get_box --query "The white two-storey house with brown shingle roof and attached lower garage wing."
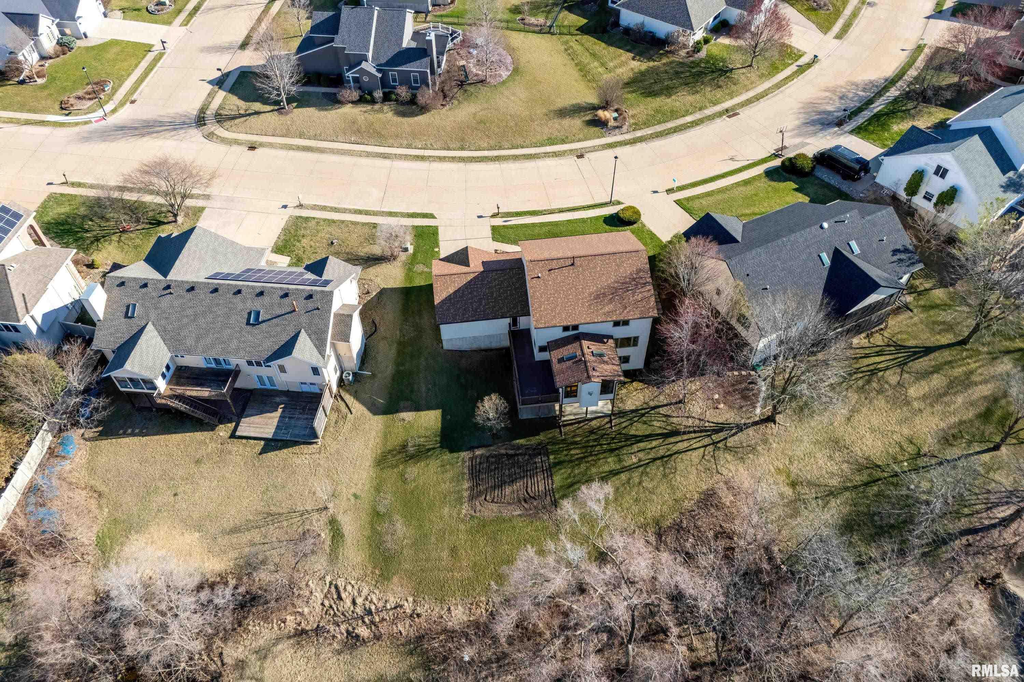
[432,231,657,439]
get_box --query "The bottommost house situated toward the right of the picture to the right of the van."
[871,72,1024,248]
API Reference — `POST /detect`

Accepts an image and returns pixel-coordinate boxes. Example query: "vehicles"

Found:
[816,143,873,177]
